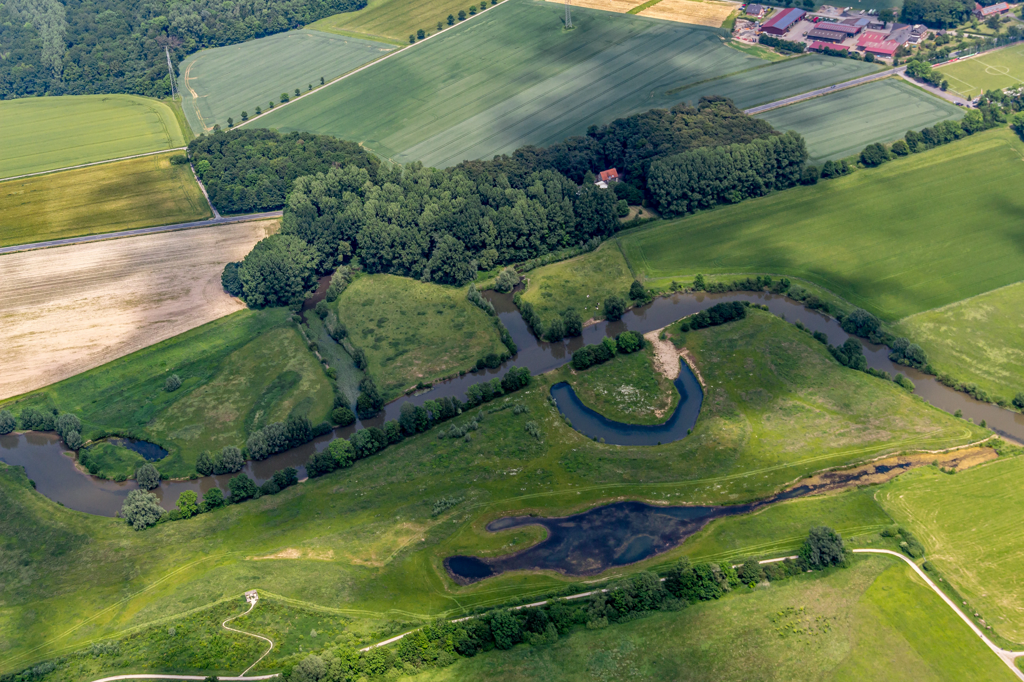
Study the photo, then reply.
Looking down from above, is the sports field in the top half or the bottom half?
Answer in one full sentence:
It is in the top half that the sports field appears.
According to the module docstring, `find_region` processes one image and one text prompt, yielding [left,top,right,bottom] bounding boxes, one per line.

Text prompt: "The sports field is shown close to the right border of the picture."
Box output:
[935,44,1024,97]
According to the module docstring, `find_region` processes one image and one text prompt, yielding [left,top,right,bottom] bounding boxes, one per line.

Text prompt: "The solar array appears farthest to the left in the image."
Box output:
[772,6,805,29]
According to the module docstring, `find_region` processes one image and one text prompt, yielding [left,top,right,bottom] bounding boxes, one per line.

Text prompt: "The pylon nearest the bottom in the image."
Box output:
[166,47,181,100]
